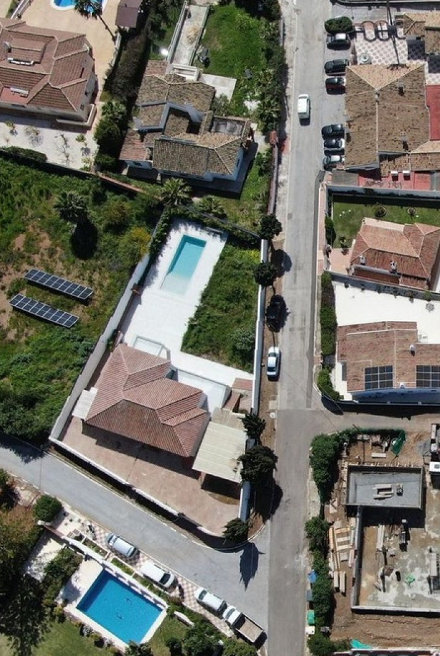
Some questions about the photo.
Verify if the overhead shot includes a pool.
Yes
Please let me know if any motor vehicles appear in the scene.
Yes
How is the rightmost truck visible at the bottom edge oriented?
at an angle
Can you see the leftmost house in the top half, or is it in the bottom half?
top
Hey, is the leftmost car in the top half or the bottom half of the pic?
bottom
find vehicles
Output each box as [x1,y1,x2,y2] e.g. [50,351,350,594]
[104,531,141,562]
[193,585,228,615]
[266,297,283,329]
[327,34,352,49]
[323,138,346,152]
[322,124,345,137]
[134,557,178,590]
[323,154,345,168]
[324,59,349,74]
[220,604,266,647]
[265,348,281,377]
[325,76,346,92]
[295,95,310,121]
[430,424,440,475]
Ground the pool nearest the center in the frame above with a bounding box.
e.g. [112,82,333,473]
[156,232,208,297]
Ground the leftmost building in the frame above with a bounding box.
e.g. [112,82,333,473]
[0,16,102,129]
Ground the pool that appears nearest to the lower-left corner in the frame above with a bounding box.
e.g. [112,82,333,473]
[66,564,171,653]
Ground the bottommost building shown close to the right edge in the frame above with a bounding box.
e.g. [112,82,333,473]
[336,321,440,396]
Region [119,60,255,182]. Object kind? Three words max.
house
